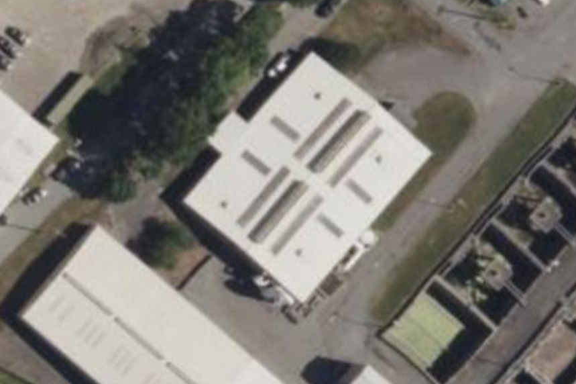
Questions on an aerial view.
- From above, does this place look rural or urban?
urban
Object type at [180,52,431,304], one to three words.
building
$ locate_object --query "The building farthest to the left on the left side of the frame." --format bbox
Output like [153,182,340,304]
[0,88,59,209]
